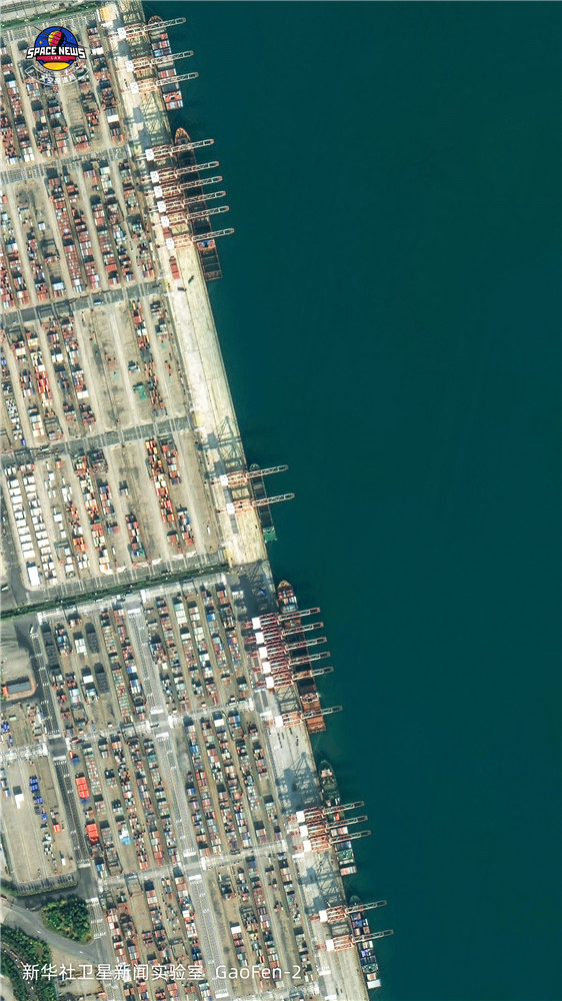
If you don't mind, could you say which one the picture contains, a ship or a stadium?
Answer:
ship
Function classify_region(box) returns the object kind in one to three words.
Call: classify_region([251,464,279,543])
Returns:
ship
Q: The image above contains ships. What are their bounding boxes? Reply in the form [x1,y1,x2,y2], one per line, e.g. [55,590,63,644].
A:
[278,581,325,733]
[320,761,357,875]
[350,896,382,987]
[150,16,185,110]
[251,464,279,543]
[176,128,223,281]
